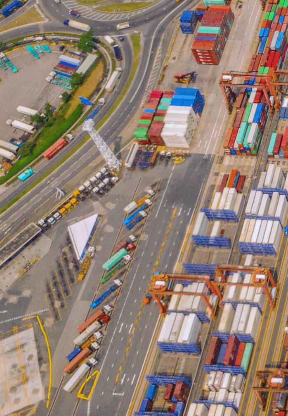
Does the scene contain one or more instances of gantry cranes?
Yes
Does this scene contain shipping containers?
Yes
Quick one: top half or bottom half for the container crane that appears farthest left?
bottom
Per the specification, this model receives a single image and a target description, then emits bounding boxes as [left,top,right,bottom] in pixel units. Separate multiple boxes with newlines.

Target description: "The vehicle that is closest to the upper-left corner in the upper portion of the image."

[0,0,27,17]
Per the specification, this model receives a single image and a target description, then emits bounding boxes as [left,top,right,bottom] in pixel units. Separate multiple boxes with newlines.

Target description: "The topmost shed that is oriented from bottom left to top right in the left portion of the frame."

[75,55,100,78]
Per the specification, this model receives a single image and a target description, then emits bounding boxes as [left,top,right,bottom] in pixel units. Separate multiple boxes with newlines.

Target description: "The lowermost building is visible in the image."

[0,222,45,271]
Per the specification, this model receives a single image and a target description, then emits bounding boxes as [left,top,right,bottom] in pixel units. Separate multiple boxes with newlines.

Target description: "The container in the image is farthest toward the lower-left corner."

[62,347,93,373]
